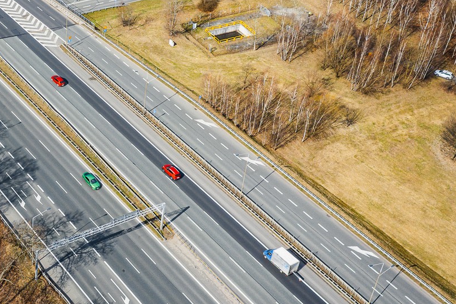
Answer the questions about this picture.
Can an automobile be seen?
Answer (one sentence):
Yes, this view includes an automobile.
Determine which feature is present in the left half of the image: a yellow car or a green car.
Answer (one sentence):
The feature located in the left half of the image is a green car.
